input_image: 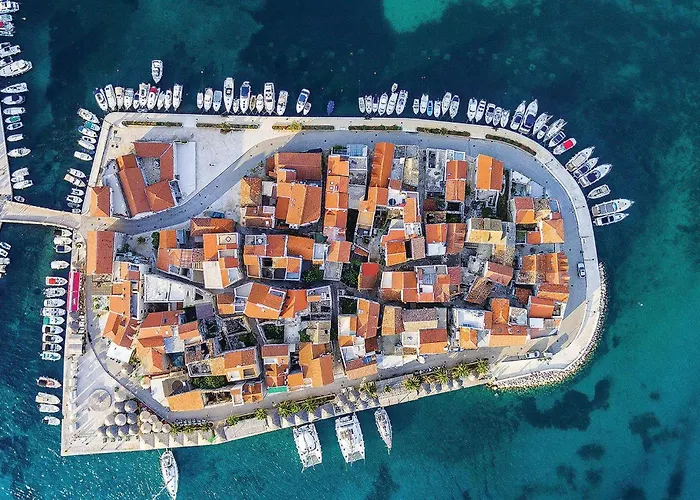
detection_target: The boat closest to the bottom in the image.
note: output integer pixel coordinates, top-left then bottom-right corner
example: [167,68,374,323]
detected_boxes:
[153,448,178,500]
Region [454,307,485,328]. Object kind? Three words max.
building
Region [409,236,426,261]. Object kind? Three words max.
house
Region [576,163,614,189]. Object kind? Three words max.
boat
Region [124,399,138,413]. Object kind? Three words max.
umbrella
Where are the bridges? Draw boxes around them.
[0,200,81,232]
